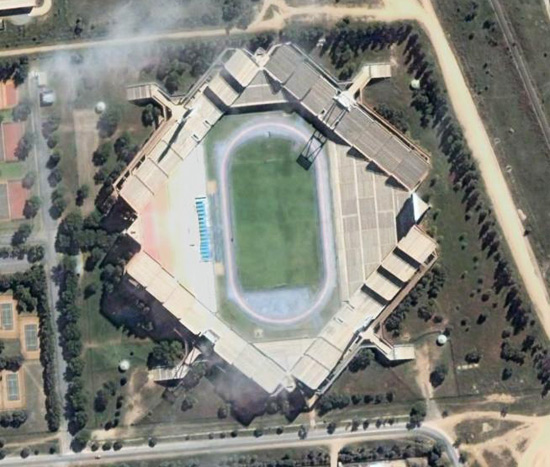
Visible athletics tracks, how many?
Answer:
1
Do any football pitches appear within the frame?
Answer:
Yes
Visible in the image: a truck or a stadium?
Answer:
stadium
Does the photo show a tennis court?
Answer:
Yes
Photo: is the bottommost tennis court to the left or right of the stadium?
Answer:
to the left of it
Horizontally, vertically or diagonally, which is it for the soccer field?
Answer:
vertically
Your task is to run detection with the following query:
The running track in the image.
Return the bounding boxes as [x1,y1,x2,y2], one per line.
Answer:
[216,115,336,329]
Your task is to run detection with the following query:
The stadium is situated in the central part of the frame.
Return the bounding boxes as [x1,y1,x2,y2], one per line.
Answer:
[111,41,438,404]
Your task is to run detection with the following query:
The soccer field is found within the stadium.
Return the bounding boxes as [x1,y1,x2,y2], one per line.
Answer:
[231,130,321,314]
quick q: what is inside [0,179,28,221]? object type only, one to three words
sports court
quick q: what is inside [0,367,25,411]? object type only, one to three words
tennis court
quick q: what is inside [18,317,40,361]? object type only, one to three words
tennis court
